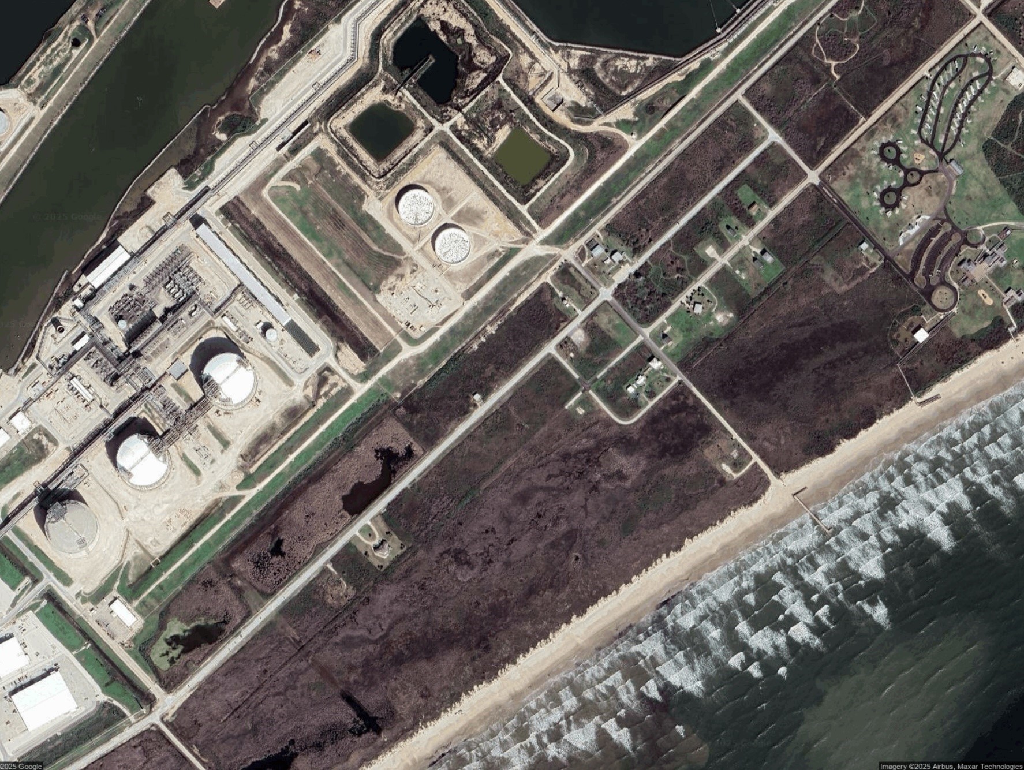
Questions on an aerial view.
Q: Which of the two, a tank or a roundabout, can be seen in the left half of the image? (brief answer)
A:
tank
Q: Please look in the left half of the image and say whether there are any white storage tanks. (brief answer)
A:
Yes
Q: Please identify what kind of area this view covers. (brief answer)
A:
port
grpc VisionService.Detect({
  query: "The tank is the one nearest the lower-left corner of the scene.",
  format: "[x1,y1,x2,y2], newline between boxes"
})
[44,501,101,559]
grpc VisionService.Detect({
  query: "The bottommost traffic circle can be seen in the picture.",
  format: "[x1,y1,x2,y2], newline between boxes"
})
[928,283,958,312]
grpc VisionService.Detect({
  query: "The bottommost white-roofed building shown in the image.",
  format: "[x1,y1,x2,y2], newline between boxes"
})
[11,671,78,733]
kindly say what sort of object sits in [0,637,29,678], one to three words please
building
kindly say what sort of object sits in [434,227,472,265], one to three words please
storage tank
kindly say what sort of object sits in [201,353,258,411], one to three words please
storage tank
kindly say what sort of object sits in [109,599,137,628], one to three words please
building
